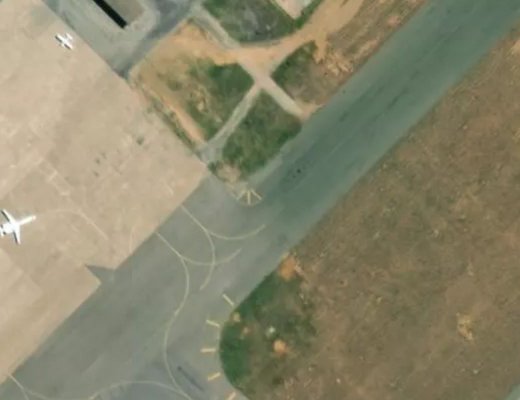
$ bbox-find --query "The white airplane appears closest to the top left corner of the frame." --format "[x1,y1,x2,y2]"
[56,32,73,49]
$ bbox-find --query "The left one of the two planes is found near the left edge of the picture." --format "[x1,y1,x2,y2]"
[0,210,36,245]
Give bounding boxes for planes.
[0,210,36,245]
[56,32,73,49]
